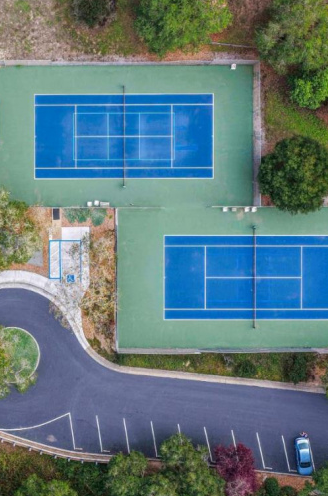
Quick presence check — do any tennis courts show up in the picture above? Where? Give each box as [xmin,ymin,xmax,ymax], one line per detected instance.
[119,207,328,350]
[0,65,255,207]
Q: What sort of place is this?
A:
sports ground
